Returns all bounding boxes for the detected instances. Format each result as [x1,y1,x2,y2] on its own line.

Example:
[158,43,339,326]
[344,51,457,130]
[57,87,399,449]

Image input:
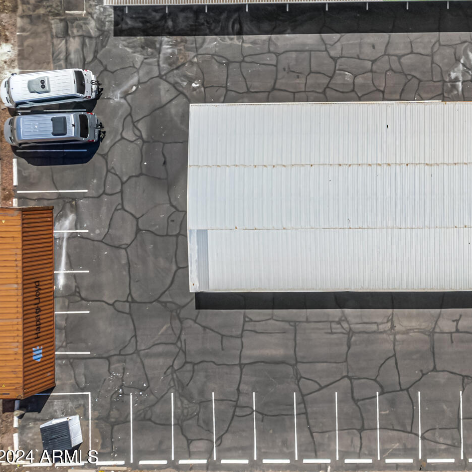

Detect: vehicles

[1,70,103,112]
[4,110,106,150]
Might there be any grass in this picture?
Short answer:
No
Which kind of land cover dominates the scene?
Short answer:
paved ground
